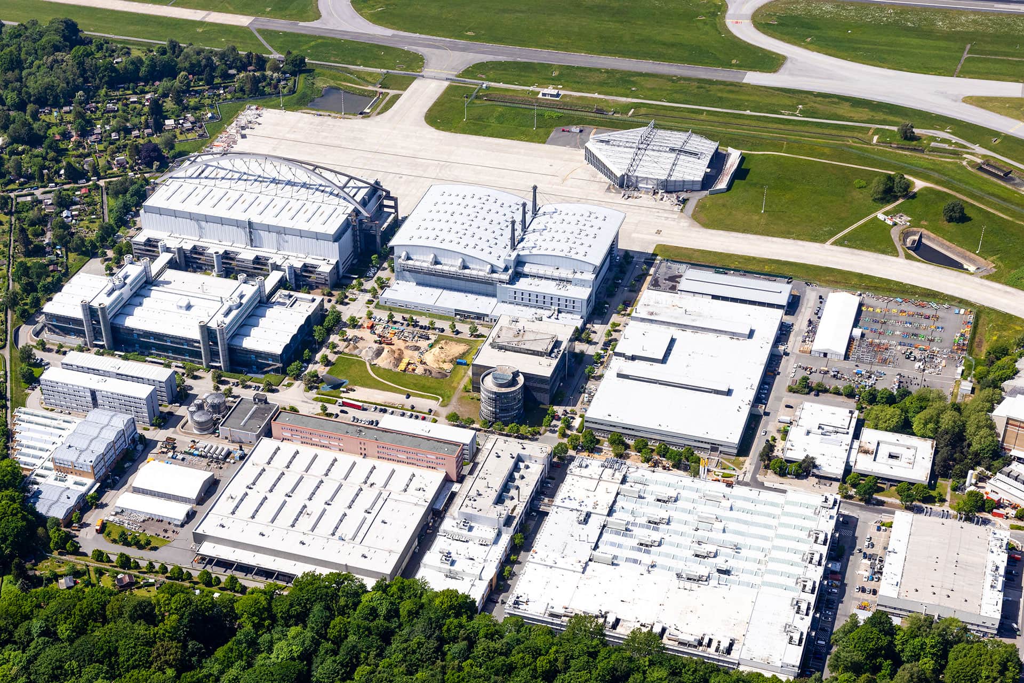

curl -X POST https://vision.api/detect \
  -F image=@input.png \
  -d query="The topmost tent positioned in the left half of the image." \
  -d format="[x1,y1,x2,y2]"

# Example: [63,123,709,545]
[132,461,215,506]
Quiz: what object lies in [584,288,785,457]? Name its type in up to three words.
building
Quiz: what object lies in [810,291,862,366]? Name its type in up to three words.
tent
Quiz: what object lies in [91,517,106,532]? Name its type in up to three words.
vehicle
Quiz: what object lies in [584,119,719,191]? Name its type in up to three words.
hangar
